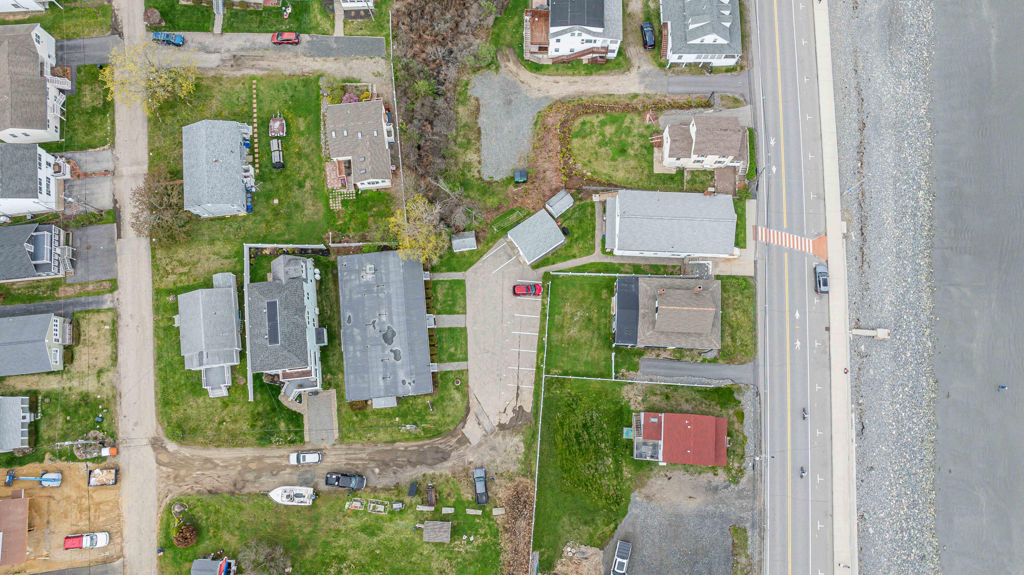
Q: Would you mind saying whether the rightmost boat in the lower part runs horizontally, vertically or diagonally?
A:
horizontally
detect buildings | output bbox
[0,221,76,285]
[330,81,394,191]
[451,230,477,253]
[501,209,565,272]
[248,258,330,399]
[0,393,35,453]
[0,0,61,11]
[0,487,52,565]
[546,189,574,218]
[169,273,243,397]
[334,0,373,14]
[189,551,243,575]
[622,411,732,467]
[0,313,77,376]
[666,116,752,176]
[524,0,623,66]
[415,520,451,543]
[659,0,742,64]
[183,120,258,214]
[592,186,741,275]
[0,24,71,138]
[615,277,721,349]
[0,139,73,209]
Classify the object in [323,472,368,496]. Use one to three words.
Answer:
truck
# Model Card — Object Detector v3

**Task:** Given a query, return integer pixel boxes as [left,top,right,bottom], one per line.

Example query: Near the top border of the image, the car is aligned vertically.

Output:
[641,22,656,51]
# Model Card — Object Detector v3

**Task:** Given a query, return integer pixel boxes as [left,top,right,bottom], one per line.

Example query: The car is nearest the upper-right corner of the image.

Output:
[812,264,830,295]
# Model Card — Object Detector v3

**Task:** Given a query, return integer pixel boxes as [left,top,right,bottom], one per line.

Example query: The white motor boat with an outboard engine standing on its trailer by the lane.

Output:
[266,486,318,506]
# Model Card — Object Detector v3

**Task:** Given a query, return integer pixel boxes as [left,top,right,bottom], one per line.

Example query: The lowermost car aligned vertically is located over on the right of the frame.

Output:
[609,539,631,575]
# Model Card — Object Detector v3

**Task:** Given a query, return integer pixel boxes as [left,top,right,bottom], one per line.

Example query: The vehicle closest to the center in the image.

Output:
[512,283,543,297]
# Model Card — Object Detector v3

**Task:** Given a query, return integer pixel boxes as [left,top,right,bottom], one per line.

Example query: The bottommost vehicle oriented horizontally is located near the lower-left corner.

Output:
[62,531,112,550]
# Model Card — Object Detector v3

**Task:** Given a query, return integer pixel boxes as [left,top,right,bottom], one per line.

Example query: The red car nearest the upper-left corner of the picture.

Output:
[271,31,302,46]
